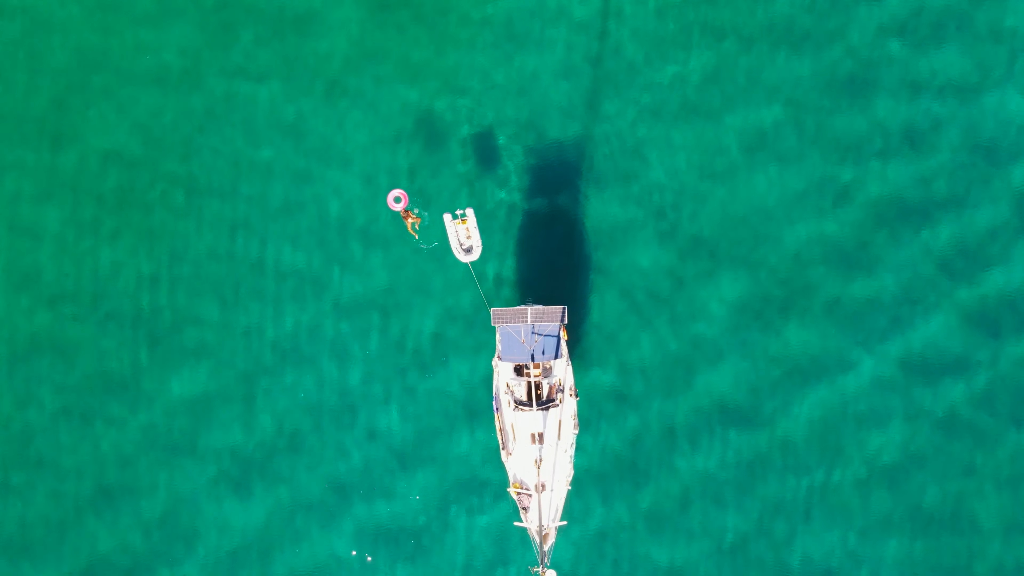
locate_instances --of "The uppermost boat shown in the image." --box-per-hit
[443,205,481,263]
